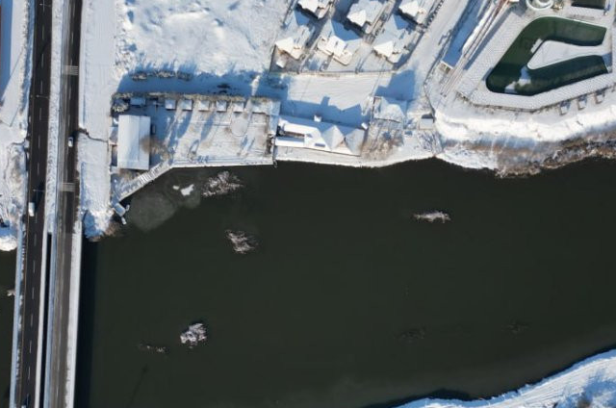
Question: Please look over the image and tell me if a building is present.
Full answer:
Yes, I can see a building in this picture.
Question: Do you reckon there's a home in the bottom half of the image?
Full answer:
No, no home is visible in the bottom half of the image.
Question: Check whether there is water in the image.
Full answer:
Yes, water shows up in the scene.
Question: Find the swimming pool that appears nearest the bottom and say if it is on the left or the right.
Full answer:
You can find the swimming pool that appears nearest the bottom on the right side of the picture.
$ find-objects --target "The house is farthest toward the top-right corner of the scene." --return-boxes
[399,0,434,27]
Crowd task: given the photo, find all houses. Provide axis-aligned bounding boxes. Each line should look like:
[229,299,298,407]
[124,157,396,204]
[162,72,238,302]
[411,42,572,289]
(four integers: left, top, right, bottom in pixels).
[117,114,152,170]
[375,97,406,122]
[275,116,368,157]
[318,19,362,68]
[399,0,434,27]
[347,0,386,37]
[373,14,412,66]
[276,9,314,63]
[299,0,332,23]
